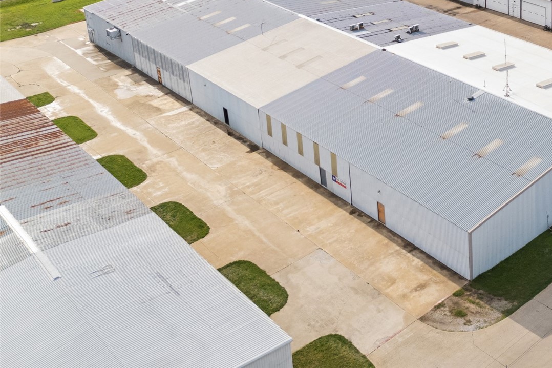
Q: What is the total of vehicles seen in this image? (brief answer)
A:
zero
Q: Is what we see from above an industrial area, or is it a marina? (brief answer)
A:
industrial area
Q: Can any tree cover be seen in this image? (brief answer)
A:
No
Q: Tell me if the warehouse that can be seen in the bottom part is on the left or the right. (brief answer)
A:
left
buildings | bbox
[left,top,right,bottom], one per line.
[80,0,552,283]
[0,81,295,368]
[458,0,552,29]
